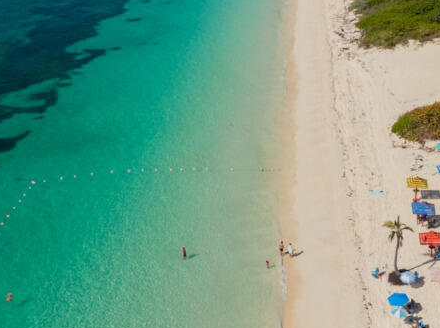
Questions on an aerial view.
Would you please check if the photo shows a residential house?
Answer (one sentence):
No, there appears to be no residential house in this shot.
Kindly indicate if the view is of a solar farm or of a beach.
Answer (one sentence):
This looks like a beach.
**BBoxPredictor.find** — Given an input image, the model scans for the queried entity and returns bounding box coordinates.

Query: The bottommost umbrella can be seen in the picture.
[391,301,414,324]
